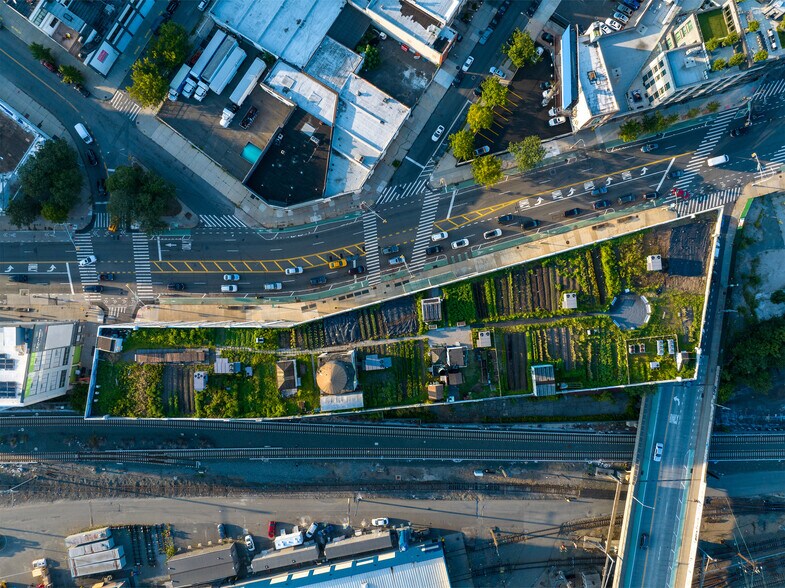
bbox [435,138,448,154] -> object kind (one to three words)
vehicle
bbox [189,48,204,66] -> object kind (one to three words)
vehicle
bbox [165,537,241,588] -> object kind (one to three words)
shed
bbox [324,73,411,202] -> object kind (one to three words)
building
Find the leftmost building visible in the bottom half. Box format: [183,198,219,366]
[0,320,80,409]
